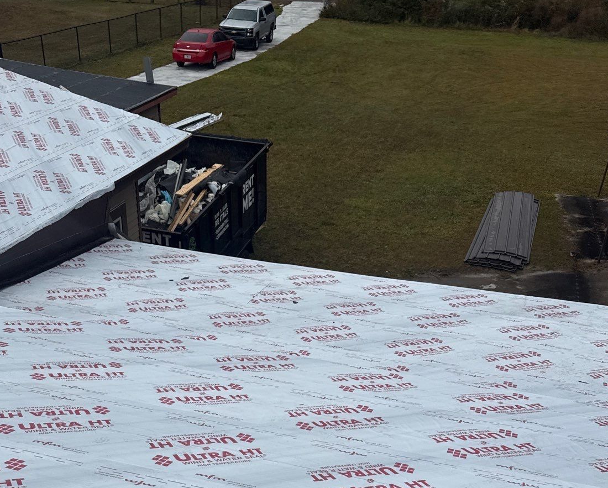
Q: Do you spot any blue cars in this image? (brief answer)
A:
No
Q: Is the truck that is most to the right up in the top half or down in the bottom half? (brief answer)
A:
top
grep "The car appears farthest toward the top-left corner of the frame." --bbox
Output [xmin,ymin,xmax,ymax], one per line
[172,30,239,68]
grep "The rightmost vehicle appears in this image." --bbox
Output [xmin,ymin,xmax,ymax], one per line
[220,2,277,50]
